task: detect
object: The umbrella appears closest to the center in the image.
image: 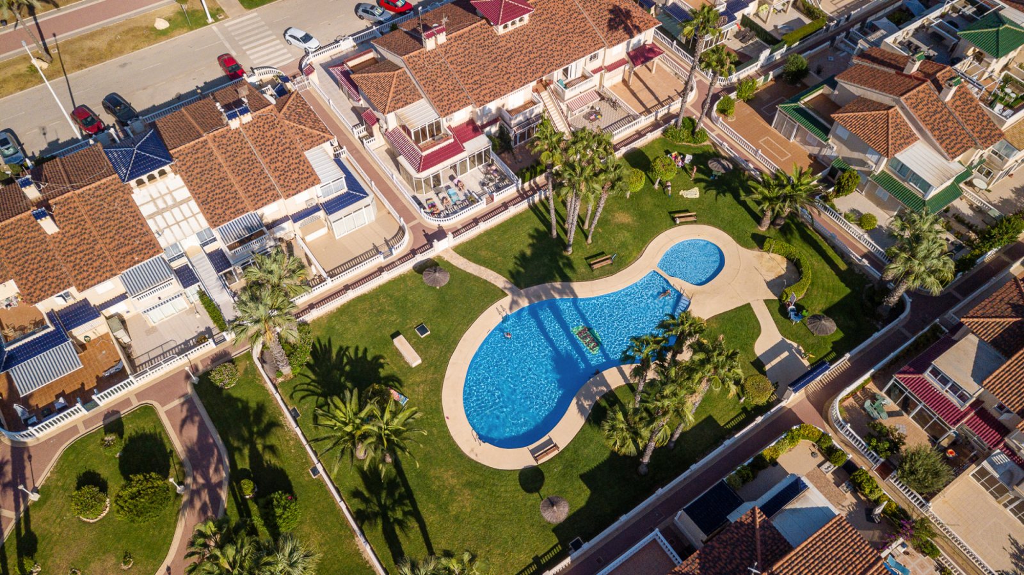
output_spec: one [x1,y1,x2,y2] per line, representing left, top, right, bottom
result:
[421,265,451,292]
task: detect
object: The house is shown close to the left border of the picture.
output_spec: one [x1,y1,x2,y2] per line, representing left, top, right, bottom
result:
[0,74,374,403]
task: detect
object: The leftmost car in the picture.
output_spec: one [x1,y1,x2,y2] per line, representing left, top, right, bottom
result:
[0,128,29,168]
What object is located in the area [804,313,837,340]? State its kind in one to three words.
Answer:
umbrella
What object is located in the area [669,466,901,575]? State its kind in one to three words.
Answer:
house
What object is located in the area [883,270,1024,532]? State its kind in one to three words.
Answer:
house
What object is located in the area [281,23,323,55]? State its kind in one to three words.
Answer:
car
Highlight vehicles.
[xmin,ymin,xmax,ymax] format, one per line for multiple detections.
[100,89,142,126]
[281,23,323,55]
[67,101,110,138]
[0,128,29,168]
[351,0,394,27]
[212,49,251,84]
[375,0,418,17]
